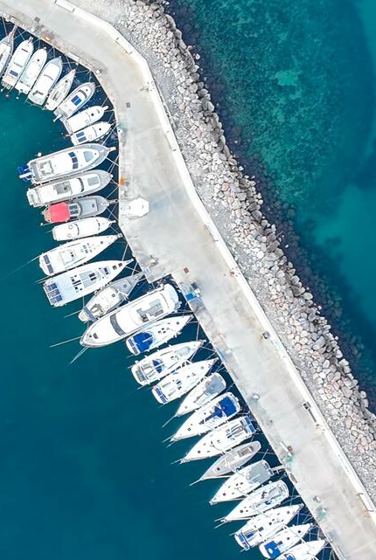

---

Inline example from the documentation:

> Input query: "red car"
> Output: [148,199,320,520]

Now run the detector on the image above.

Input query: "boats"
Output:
[66,109,117,148]
[209,450,279,512]
[21,160,119,209]
[60,100,114,137]
[272,532,335,560]
[12,39,49,100]
[16,134,118,185]
[37,191,119,226]
[24,47,72,112]
[193,433,272,486]
[44,279,184,365]
[0,20,26,80]
[126,333,212,382]
[149,347,223,402]
[35,226,127,273]
[231,494,320,552]
[256,516,330,560]
[177,410,256,465]
[50,211,123,245]
[207,470,295,532]
[47,83,105,127]
[41,251,143,305]
[119,312,199,355]
[161,387,249,445]
[43,65,77,112]
[167,371,237,422]
[68,267,150,327]
[0,26,42,92]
